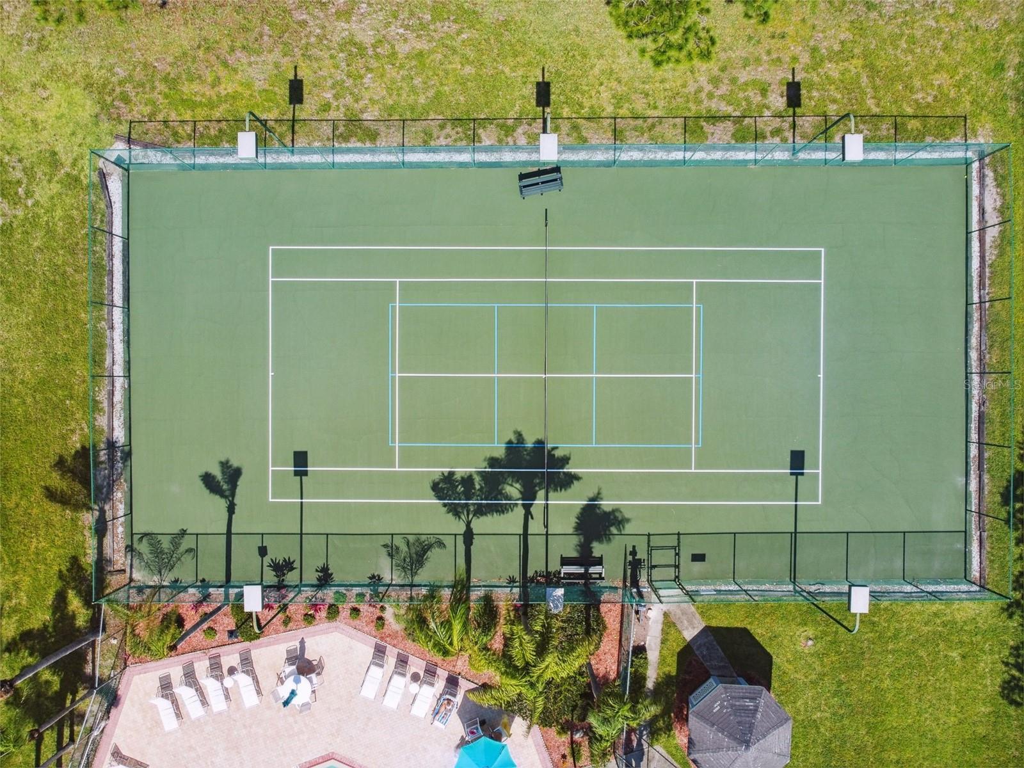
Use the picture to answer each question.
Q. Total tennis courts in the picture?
one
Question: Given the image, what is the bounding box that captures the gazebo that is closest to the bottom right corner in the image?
[686,675,794,768]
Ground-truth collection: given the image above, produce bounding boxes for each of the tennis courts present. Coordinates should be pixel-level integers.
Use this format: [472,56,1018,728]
[123,160,972,585]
